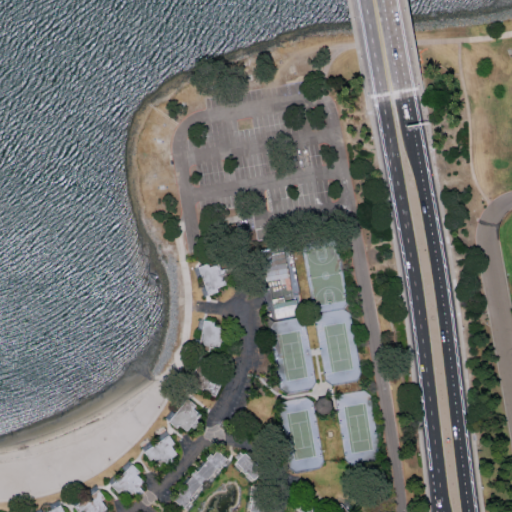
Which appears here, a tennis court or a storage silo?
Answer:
tennis court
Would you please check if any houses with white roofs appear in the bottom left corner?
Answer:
Yes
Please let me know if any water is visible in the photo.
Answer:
Yes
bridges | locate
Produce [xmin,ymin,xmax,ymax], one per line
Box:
[350,0,424,98]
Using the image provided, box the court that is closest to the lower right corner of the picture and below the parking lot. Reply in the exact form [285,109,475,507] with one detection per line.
[338,391,378,463]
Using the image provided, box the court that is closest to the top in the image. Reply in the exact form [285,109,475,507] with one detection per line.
[304,242,348,311]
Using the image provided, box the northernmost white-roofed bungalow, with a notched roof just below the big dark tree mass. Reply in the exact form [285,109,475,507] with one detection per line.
[195,265,227,297]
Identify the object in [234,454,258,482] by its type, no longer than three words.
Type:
building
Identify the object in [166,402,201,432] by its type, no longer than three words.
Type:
house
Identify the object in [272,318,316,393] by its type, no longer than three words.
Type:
tennis court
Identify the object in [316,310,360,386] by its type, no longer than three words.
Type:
tennis court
